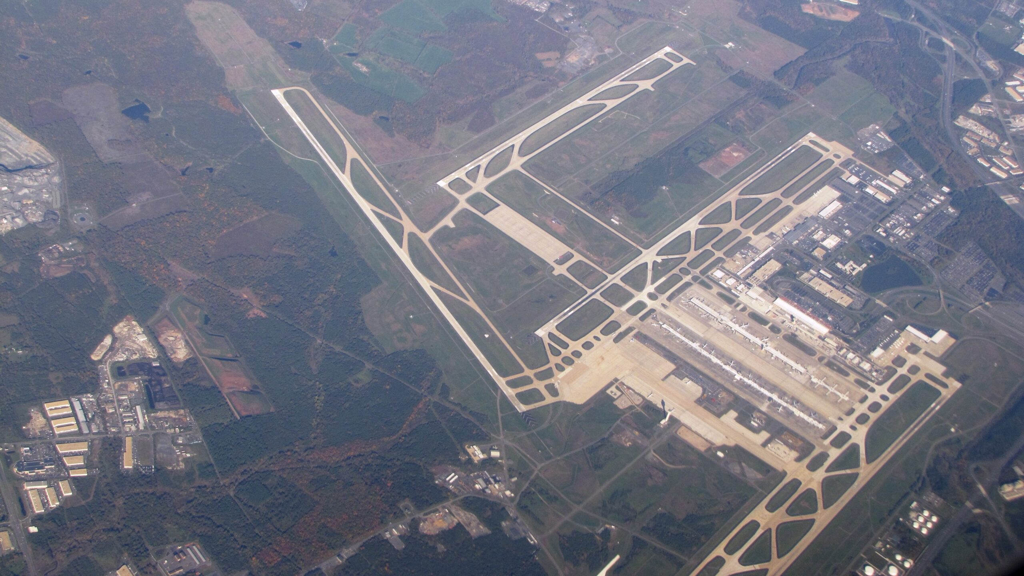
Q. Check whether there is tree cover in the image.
Yes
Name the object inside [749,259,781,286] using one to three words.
building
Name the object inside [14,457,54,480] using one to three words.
building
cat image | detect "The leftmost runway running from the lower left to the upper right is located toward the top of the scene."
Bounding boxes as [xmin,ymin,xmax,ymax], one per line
[437,46,671,186]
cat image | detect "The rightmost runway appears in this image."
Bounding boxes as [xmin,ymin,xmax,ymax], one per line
[768,380,961,576]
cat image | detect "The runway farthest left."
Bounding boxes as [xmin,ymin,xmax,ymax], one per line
[272,90,526,412]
